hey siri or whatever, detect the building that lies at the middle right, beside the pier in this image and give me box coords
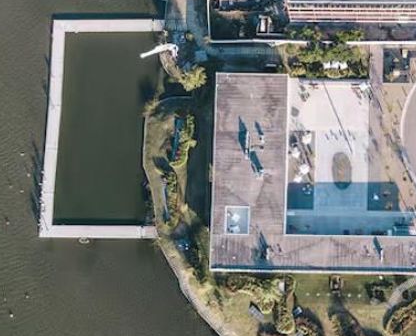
[211,71,416,271]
